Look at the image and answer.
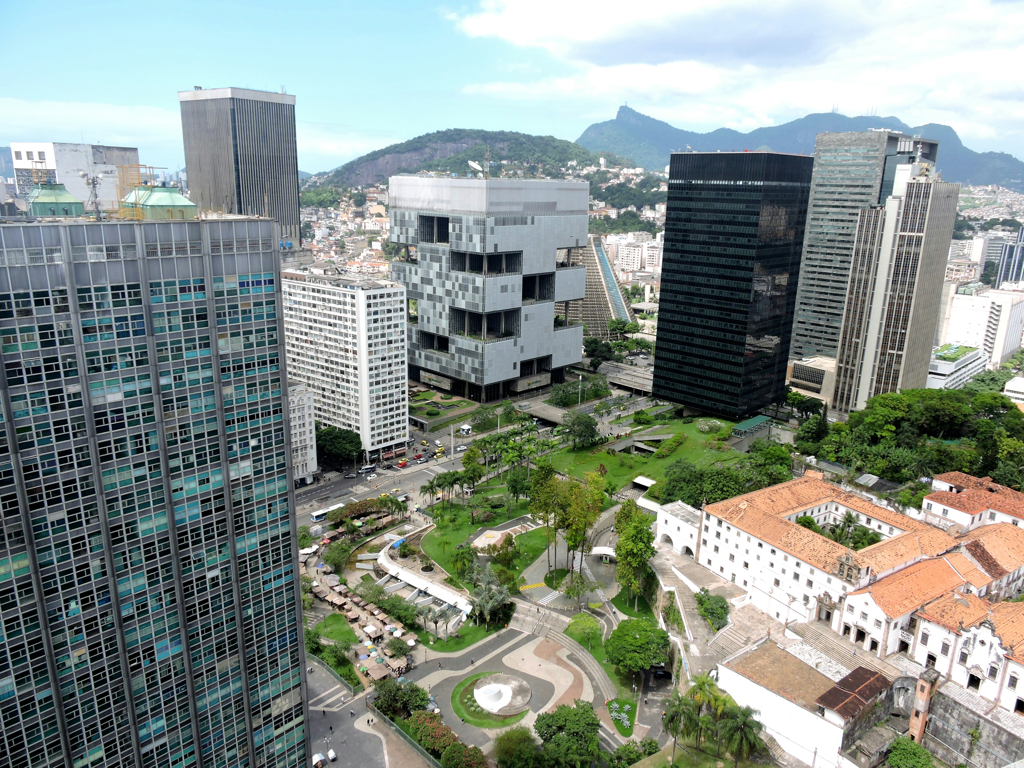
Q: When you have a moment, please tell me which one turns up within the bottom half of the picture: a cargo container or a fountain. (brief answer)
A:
fountain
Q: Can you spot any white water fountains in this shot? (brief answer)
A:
Yes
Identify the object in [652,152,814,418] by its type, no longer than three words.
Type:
building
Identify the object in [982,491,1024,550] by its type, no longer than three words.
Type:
building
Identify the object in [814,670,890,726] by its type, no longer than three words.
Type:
shed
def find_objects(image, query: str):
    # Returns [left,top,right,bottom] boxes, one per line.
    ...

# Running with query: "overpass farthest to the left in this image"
[519,396,573,428]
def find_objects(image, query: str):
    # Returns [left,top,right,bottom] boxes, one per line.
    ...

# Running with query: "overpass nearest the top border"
[606,361,656,398]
